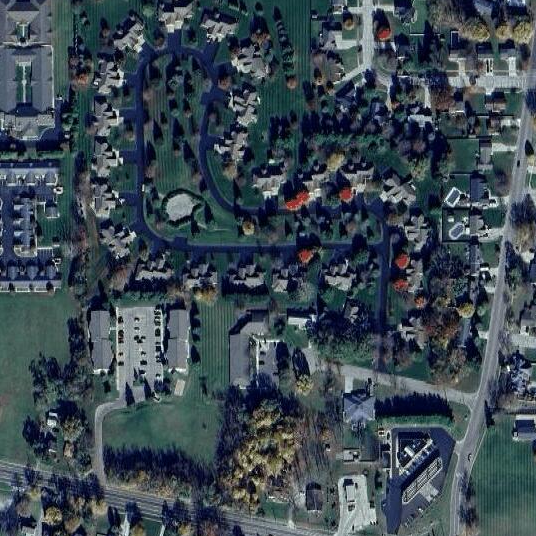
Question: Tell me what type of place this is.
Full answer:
This image shows a residential area.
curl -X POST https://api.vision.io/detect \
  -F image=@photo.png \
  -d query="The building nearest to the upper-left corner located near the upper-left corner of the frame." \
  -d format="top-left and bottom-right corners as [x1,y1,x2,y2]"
[0,0,53,43]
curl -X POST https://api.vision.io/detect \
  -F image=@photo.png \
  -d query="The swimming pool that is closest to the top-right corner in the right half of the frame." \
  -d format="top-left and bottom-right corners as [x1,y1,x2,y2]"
[447,186,466,209]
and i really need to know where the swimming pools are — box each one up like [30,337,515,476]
[449,224,464,238]
[447,186,466,209]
